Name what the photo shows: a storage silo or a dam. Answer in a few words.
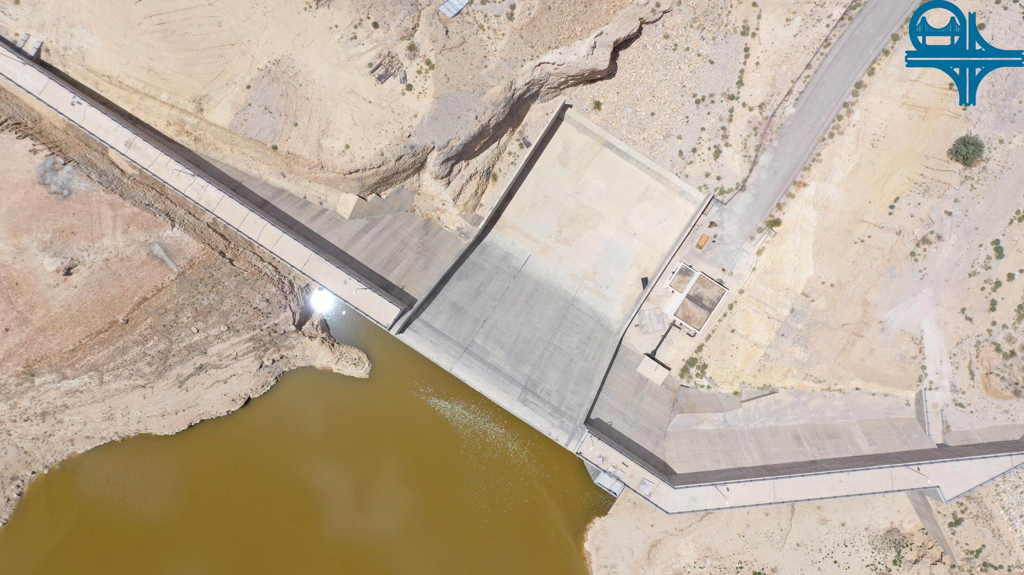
dam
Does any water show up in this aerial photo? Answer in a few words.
Yes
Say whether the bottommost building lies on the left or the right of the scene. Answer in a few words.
right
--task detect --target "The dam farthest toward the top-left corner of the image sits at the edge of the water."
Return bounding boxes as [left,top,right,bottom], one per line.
[0,36,412,331]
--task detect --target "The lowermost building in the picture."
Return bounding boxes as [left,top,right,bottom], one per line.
[665,264,728,333]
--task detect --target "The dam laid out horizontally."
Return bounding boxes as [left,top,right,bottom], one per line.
[572,421,1024,514]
